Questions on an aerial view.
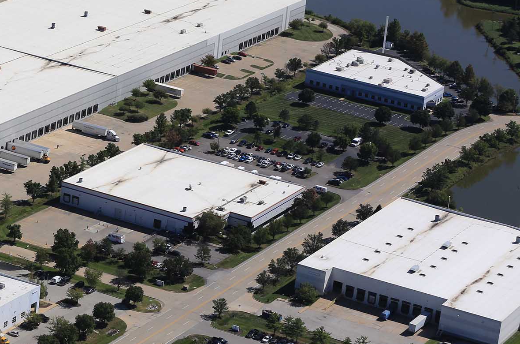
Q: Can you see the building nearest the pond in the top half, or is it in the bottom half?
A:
bottom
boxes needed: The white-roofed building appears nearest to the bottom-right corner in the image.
[294,196,520,344]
